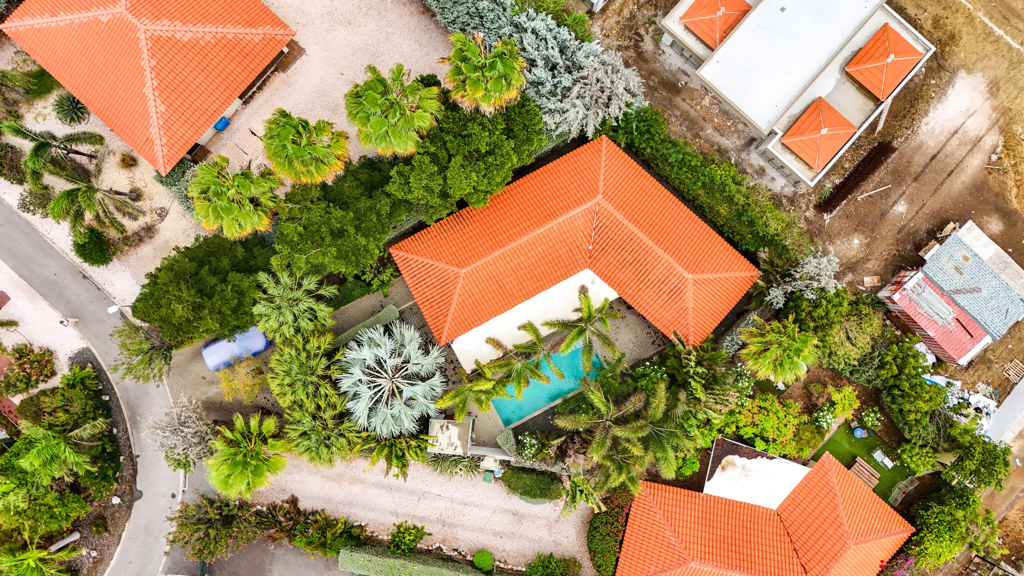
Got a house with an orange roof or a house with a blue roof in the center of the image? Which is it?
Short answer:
house with an orange roof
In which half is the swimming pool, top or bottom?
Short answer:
bottom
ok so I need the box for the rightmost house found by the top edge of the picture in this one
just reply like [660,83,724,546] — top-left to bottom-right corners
[658,0,936,188]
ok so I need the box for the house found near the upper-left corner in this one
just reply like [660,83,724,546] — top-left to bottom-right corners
[0,0,308,177]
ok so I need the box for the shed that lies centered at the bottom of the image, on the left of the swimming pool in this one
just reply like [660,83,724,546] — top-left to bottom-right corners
[427,414,473,456]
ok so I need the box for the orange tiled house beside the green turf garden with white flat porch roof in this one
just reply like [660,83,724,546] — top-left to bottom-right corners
[616,437,919,576]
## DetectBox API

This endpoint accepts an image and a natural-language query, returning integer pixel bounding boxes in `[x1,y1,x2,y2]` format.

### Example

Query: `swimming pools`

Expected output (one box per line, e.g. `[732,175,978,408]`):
[475,326,612,435]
